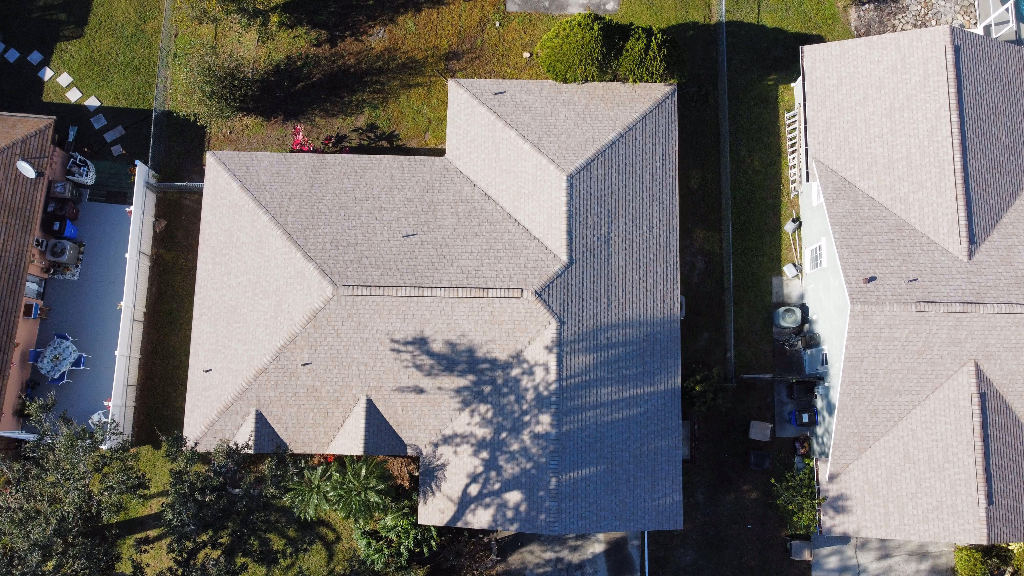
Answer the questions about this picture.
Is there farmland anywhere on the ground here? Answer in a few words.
No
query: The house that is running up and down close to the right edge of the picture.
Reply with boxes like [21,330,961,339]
[789,20,1024,551]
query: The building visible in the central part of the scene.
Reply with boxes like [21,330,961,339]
[183,76,683,537]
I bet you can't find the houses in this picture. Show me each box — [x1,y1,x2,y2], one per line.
[789,20,1024,551]
[183,76,683,537]
[0,109,68,456]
